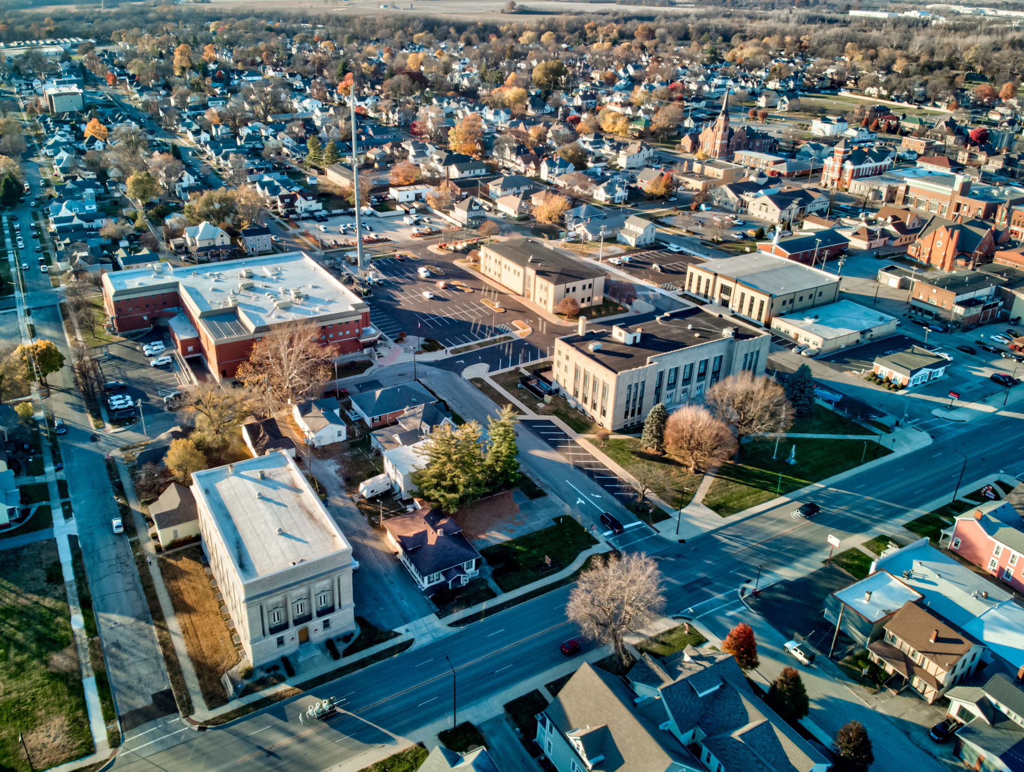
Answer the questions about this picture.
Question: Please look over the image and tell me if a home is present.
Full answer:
Yes, a home appears in the view.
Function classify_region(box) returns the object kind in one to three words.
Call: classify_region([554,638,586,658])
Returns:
car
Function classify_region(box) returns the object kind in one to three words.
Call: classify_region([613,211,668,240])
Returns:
house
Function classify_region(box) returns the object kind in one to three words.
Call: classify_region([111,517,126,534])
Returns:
car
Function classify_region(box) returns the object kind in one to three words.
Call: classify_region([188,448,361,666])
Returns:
building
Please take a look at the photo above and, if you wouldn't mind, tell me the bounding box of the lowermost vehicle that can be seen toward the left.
[299,696,344,723]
